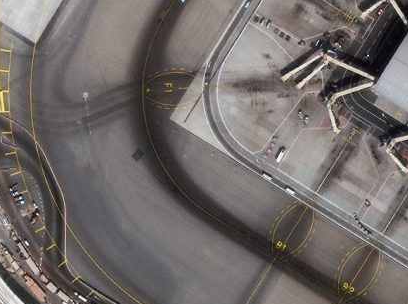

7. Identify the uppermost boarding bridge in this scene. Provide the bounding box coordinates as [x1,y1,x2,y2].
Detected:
[359,0,388,20]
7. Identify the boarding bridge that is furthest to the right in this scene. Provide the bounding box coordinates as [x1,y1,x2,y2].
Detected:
[386,150,408,175]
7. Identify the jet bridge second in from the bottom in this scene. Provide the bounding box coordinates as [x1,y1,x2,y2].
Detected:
[326,103,339,135]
